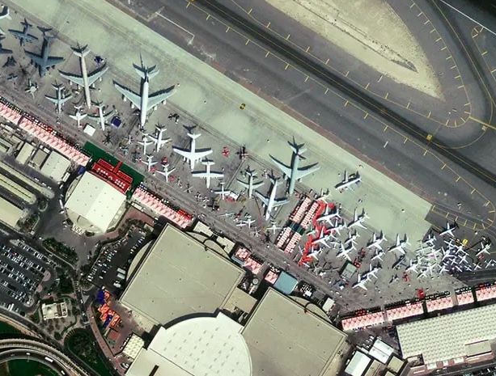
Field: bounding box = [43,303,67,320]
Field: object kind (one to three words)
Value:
building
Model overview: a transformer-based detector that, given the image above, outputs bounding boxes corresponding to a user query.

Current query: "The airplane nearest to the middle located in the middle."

[235,170,264,198]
